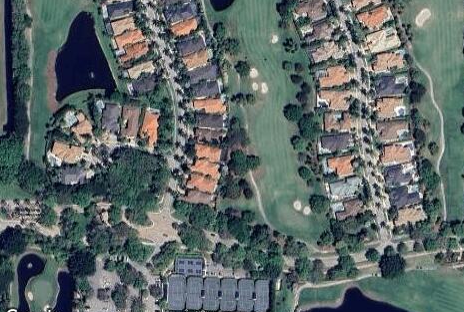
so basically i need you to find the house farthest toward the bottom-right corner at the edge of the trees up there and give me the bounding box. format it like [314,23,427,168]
[394,204,430,226]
